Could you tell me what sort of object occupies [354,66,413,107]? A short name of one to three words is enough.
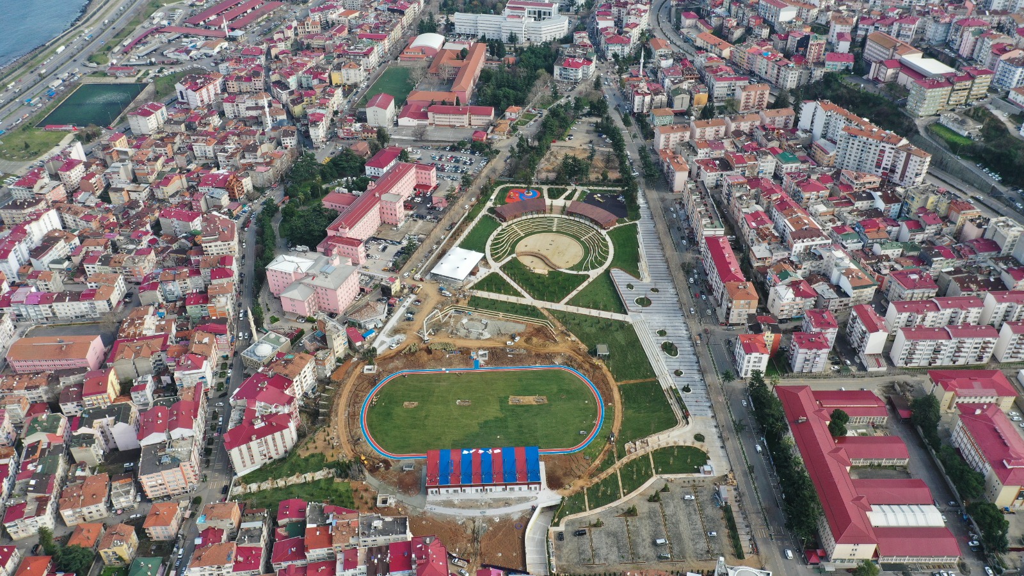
sports field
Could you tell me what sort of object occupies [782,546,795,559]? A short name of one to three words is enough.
vehicle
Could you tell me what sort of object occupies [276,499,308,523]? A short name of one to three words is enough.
house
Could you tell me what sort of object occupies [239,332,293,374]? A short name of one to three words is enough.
building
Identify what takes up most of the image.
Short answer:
buildings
